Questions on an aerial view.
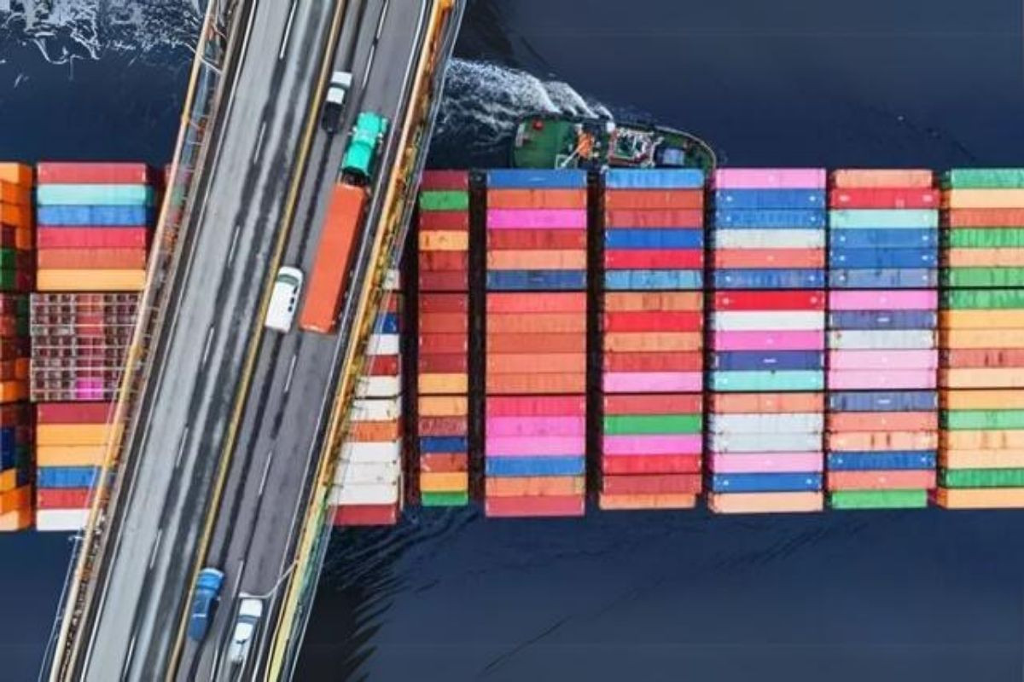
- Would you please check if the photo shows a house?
No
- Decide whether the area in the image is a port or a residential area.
port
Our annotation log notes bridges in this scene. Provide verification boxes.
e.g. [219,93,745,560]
[31,0,469,682]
